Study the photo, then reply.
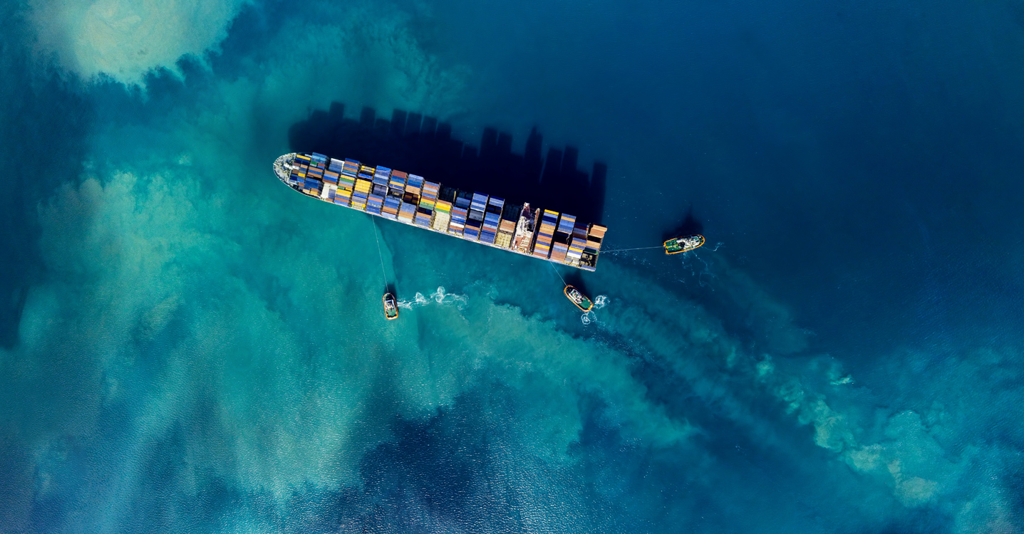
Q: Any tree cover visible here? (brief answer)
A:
No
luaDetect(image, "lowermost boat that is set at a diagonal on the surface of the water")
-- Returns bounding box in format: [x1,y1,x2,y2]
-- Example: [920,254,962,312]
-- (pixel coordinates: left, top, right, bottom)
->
[564,285,595,315]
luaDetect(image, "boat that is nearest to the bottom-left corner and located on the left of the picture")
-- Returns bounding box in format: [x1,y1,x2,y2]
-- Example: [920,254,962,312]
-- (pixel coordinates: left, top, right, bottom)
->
[383,292,398,320]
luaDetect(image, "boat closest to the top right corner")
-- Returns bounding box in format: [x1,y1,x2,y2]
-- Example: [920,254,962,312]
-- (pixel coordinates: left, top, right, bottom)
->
[665,236,705,254]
